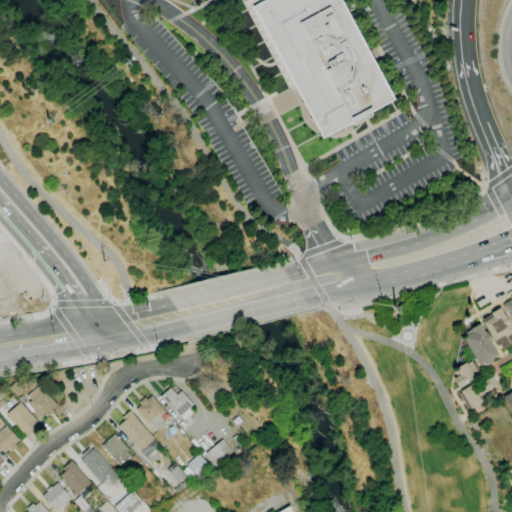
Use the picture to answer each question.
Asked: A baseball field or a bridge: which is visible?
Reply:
bridge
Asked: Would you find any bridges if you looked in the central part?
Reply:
Yes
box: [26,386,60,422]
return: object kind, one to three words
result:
house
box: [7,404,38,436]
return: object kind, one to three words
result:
house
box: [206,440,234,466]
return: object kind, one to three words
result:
barn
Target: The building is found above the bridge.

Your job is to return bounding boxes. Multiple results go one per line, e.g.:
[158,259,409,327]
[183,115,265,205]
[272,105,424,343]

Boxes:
[252,0,396,137]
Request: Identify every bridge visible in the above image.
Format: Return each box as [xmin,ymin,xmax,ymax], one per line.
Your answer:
[150,258,306,344]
